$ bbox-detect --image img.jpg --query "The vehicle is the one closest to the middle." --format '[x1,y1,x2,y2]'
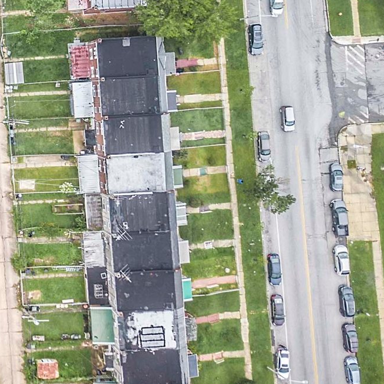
[255,129,272,162]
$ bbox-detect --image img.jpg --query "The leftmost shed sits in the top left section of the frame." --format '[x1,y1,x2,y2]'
[3,62,23,84]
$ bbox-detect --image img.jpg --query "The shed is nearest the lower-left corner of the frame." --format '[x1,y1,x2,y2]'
[36,358,58,380]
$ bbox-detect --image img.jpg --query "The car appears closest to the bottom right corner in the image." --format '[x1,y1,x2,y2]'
[342,353,360,384]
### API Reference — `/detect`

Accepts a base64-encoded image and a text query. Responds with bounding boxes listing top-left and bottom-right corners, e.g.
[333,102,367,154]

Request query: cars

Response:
[273,345,290,377]
[339,320,359,354]
[337,284,354,317]
[255,129,272,162]
[278,105,296,134]
[265,252,282,285]
[330,243,349,276]
[326,161,343,194]
[267,0,285,15]
[268,293,285,326]
[246,23,264,55]
[342,353,360,384]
